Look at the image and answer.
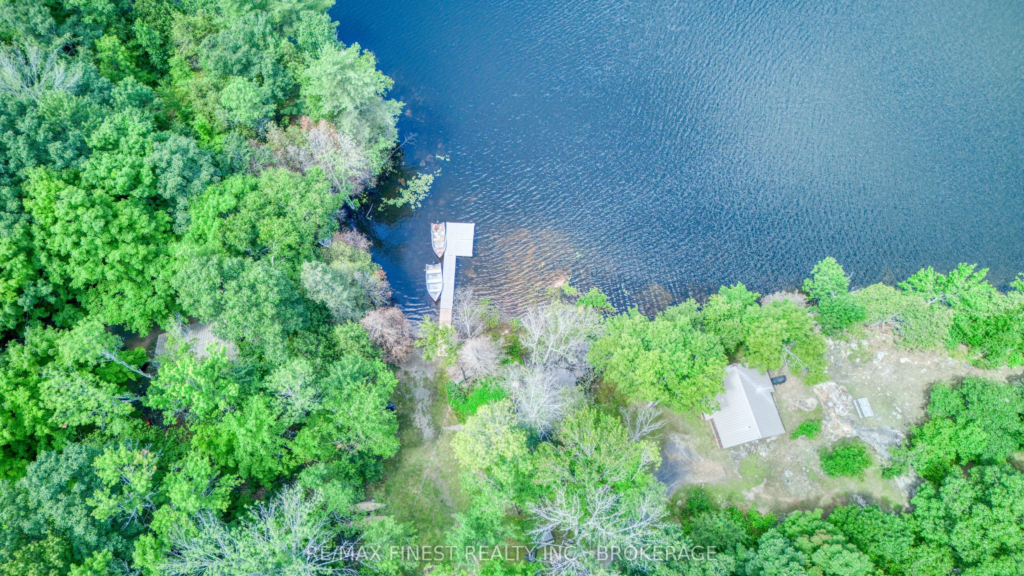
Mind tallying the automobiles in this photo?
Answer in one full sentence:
The photo contains no automobiles.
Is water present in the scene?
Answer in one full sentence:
Yes, there is water in the image.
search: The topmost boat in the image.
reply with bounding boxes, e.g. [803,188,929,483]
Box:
[431,219,446,258]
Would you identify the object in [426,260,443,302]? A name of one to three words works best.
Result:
boat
